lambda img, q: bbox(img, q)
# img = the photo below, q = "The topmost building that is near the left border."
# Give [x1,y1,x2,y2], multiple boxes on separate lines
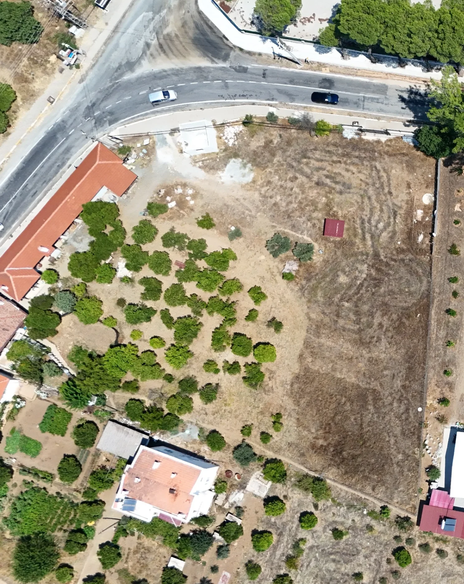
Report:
[0,142,146,302]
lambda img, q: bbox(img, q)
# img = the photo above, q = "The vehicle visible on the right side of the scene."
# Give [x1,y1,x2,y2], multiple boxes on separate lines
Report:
[309,90,339,105]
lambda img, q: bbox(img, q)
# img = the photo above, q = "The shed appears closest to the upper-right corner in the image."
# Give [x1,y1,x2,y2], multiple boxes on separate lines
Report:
[324,218,347,238]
